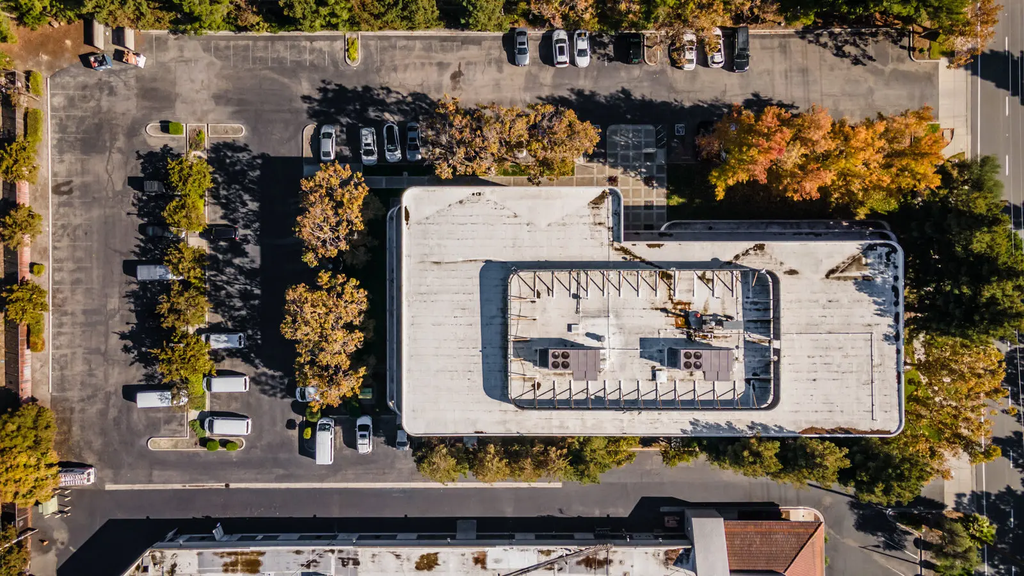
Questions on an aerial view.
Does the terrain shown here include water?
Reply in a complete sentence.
No, there's no water in this view.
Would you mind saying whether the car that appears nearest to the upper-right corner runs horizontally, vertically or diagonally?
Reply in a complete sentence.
Seen from above, the car that appears nearest to the upper-right corner lies vertically.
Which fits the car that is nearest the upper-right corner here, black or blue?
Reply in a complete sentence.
From above, the car that is nearest the upper-right corner appears black.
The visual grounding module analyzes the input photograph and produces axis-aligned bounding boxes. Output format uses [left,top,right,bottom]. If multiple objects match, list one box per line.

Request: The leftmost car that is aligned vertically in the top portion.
[318,125,336,162]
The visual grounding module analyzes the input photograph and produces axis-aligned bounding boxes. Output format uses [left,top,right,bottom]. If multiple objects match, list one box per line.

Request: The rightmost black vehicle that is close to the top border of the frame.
[731,28,751,73]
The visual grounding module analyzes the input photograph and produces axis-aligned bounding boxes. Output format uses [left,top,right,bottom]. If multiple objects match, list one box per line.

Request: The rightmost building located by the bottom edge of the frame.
[724,519,827,576]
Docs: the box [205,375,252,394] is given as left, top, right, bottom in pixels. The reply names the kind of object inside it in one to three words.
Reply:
vehicle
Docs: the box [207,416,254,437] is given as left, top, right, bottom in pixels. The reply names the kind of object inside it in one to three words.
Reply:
vehicle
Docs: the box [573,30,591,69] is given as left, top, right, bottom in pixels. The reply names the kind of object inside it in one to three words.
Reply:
car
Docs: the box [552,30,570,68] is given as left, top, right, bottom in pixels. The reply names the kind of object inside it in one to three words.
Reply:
car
